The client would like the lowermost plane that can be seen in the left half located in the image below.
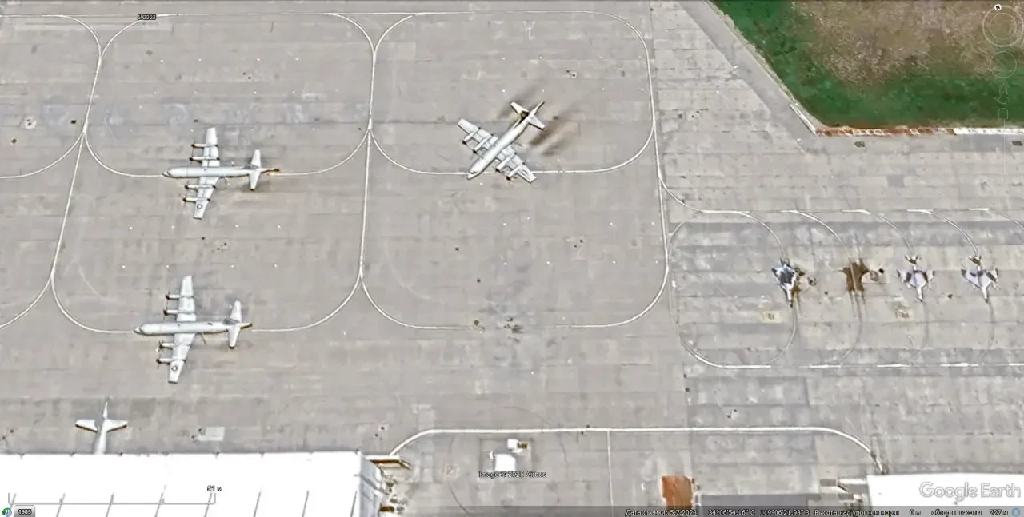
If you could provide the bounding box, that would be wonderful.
[76,398,129,460]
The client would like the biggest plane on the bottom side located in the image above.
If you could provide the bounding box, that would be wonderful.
[134,275,252,383]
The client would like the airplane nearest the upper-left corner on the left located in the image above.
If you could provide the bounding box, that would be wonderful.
[164,124,280,217]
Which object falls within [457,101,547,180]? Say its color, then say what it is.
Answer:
white airplane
